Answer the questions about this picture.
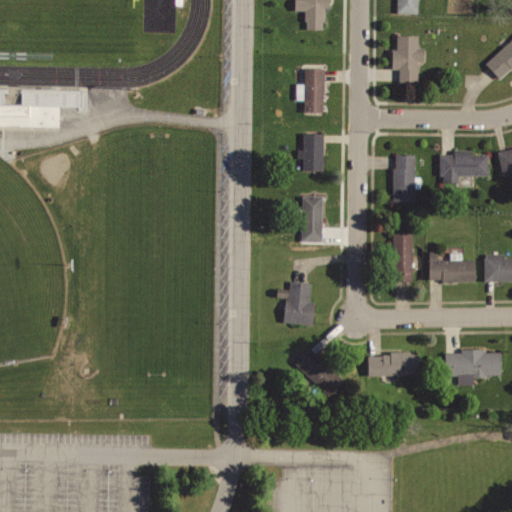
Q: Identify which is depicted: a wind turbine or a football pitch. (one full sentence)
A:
It is a football pitch that can be seen here.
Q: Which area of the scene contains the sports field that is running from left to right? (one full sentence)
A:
You can find the sports field that is running from left to right in the top left area of the picture.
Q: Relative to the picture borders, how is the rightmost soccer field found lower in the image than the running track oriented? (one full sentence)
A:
In this picture, the rightmost soccer field found lower in the image than the running track is oriented from top to bottom.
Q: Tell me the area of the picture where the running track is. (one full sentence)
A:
The running track is in the top left part of the image.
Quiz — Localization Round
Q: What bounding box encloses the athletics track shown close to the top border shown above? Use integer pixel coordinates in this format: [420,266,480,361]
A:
[0,0,214,89]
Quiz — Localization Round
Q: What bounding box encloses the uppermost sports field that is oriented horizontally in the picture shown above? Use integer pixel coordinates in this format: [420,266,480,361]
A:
[0,0,191,68]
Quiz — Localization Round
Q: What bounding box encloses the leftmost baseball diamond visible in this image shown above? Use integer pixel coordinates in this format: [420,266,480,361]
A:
[0,158,68,366]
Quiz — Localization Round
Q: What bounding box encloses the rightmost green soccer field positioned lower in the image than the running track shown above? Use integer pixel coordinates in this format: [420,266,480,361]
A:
[92,124,216,419]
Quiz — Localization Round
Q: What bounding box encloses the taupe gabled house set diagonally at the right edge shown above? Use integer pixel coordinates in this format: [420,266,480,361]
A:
[482,42,512,86]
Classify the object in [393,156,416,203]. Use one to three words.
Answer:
house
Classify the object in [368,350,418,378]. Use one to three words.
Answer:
house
